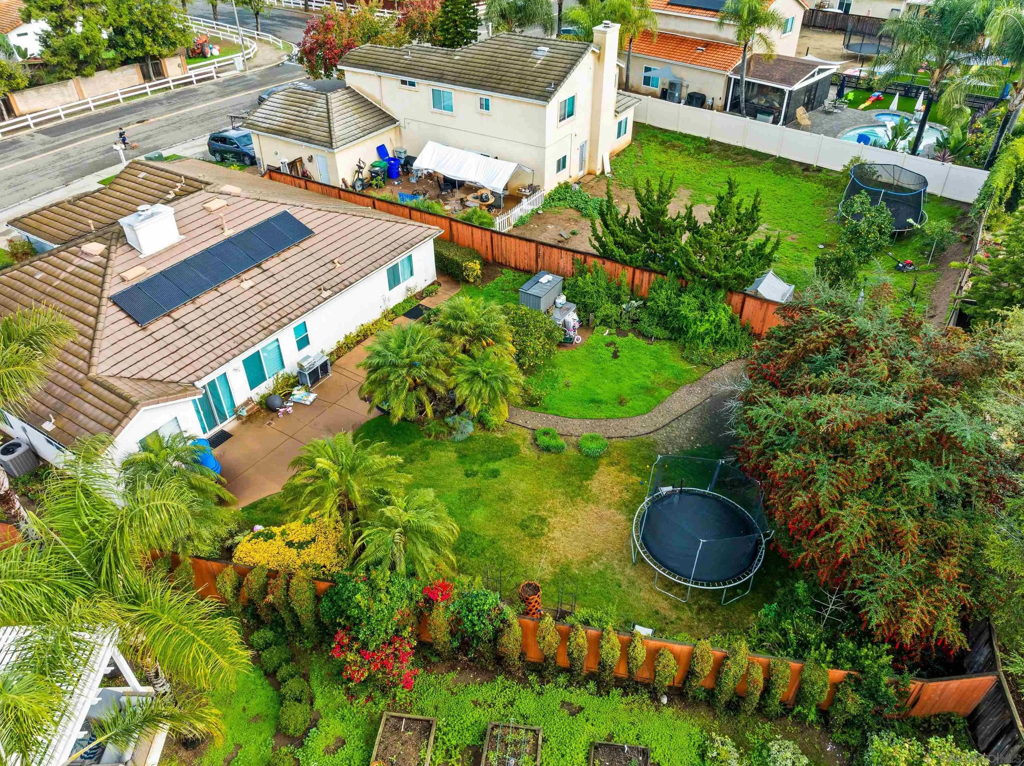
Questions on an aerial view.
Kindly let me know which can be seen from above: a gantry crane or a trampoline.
trampoline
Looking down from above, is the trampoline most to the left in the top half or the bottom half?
bottom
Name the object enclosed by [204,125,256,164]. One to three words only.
car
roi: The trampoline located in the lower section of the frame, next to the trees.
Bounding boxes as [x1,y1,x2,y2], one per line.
[631,446,781,606]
